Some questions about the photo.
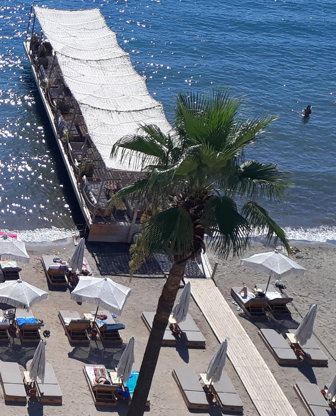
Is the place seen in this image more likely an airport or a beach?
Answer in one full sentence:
The picture captures a beach.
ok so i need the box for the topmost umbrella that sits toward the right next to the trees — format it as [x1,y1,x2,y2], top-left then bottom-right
[237,241,313,290]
